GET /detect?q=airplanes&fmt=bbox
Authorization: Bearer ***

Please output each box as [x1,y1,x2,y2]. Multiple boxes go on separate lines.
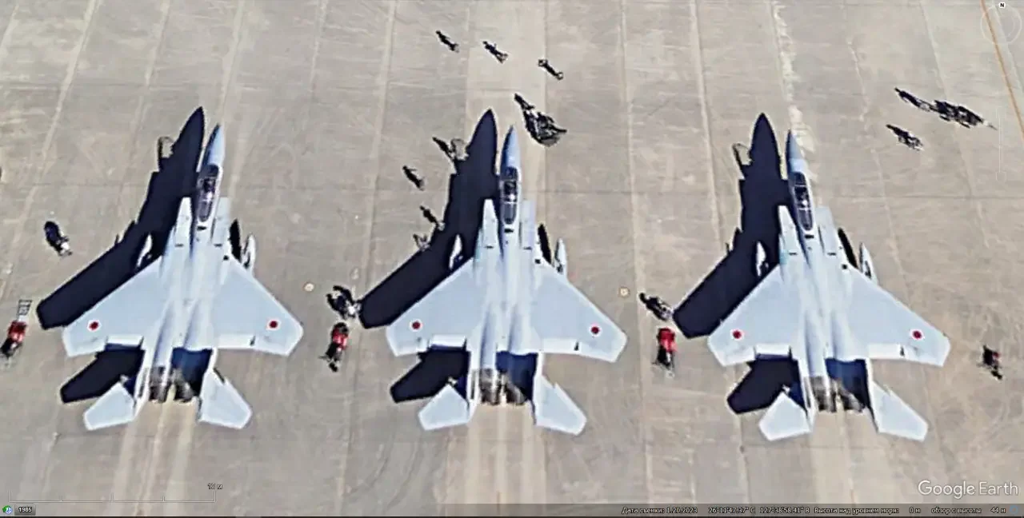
[60,125,303,430]
[385,127,627,434]
[708,133,951,440]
